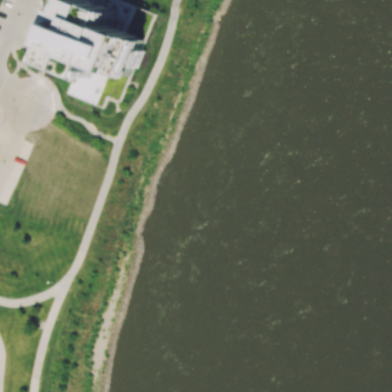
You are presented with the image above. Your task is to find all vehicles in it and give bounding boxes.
[2,1,14,9]
[0,12,8,18]
[15,157,26,165]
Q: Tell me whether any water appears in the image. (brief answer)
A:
Yes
